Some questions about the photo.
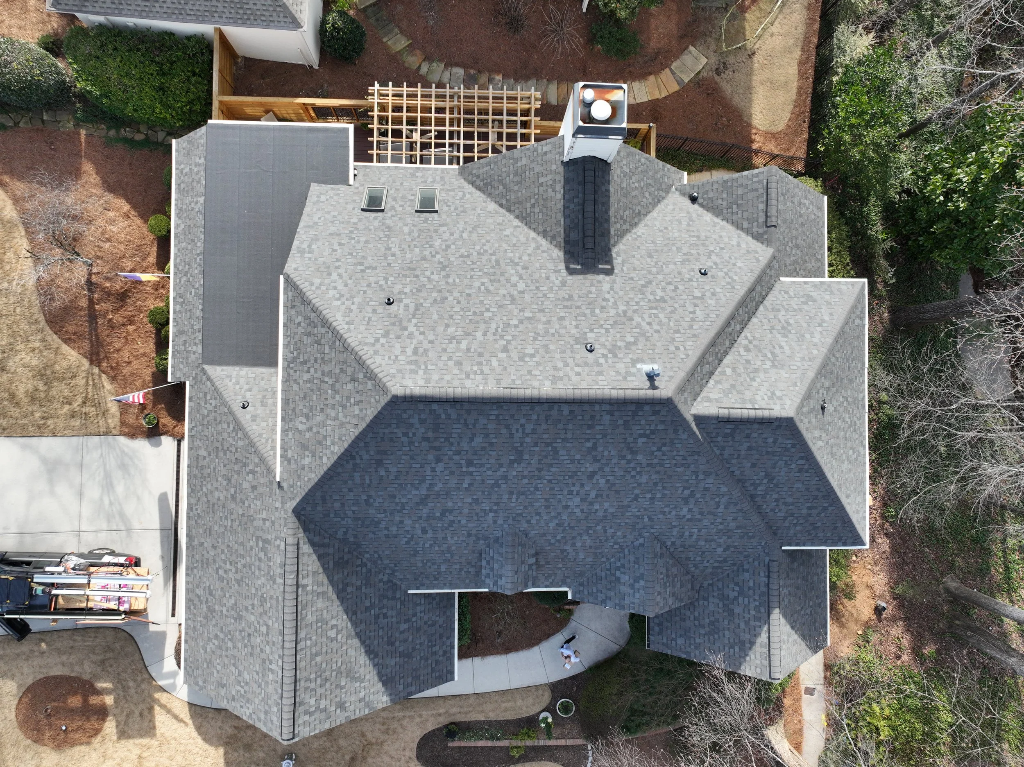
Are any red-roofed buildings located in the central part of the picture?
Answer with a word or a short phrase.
No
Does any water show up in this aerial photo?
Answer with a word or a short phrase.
No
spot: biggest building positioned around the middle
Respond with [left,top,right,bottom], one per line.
[166,81,873,749]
